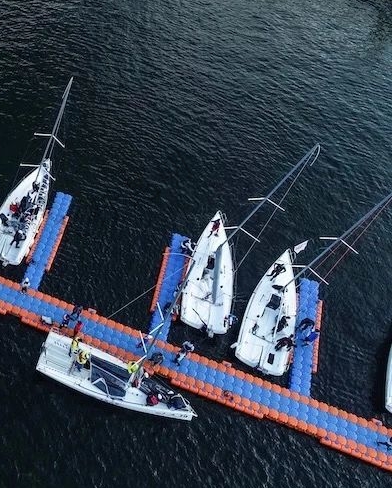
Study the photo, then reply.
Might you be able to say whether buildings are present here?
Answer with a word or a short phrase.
No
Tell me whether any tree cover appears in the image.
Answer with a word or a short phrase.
No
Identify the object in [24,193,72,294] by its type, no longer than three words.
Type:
pier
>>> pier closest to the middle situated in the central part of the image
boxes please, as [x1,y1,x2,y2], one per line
[148,232,188,342]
